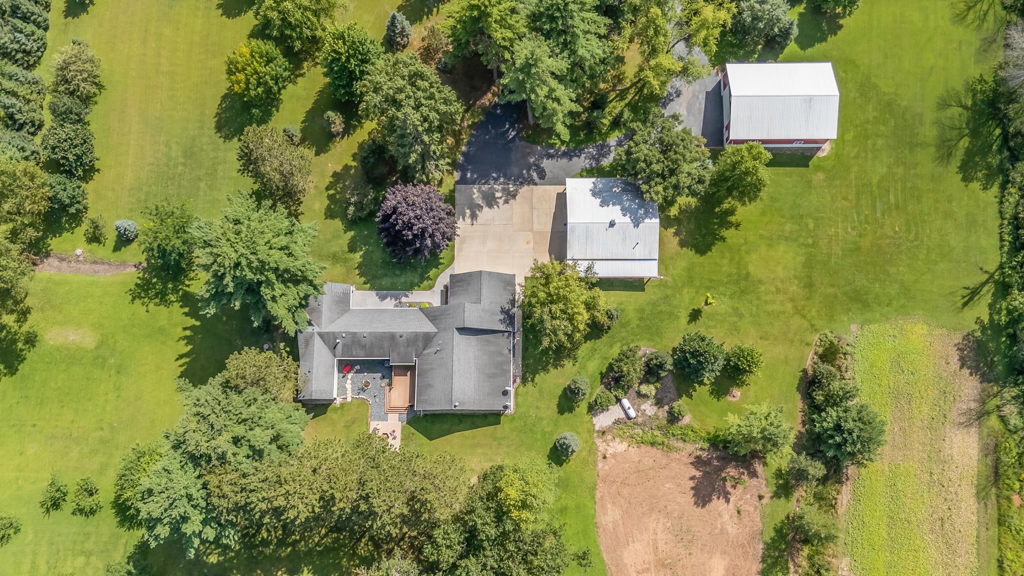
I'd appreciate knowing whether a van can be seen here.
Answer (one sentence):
No, the frame has no van in it.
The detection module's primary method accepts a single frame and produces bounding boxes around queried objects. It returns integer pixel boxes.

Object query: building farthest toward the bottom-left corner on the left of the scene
[295,271,516,414]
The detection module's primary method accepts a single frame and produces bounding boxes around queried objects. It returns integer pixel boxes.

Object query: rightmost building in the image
[719,63,839,148]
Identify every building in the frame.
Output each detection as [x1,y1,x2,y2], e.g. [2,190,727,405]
[295,271,516,414]
[565,179,659,280]
[719,63,839,148]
